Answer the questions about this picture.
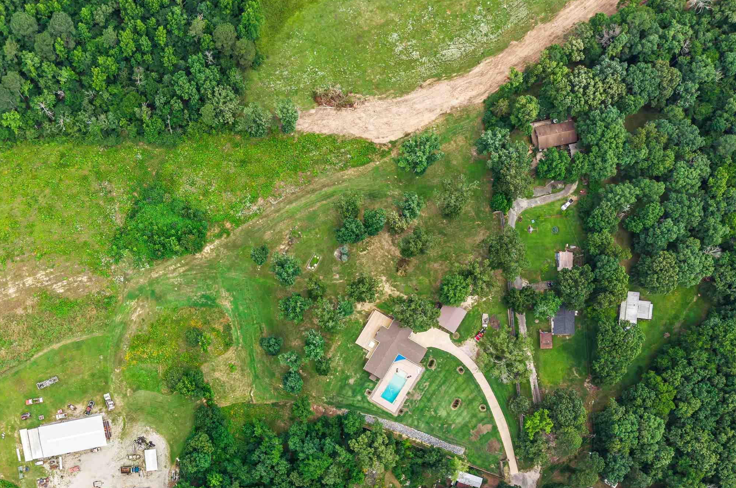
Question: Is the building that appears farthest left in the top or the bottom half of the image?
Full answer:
It is in the bottom half that the building that appears farthest left appears.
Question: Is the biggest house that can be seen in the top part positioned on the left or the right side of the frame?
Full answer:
You can find the biggest house that can be seen in the top part on the right side of the picture.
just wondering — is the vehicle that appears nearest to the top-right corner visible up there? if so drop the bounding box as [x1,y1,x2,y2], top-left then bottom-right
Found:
[560,197,575,211]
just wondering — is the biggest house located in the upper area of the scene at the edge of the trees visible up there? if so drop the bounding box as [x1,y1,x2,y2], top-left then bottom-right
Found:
[528,120,578,150]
